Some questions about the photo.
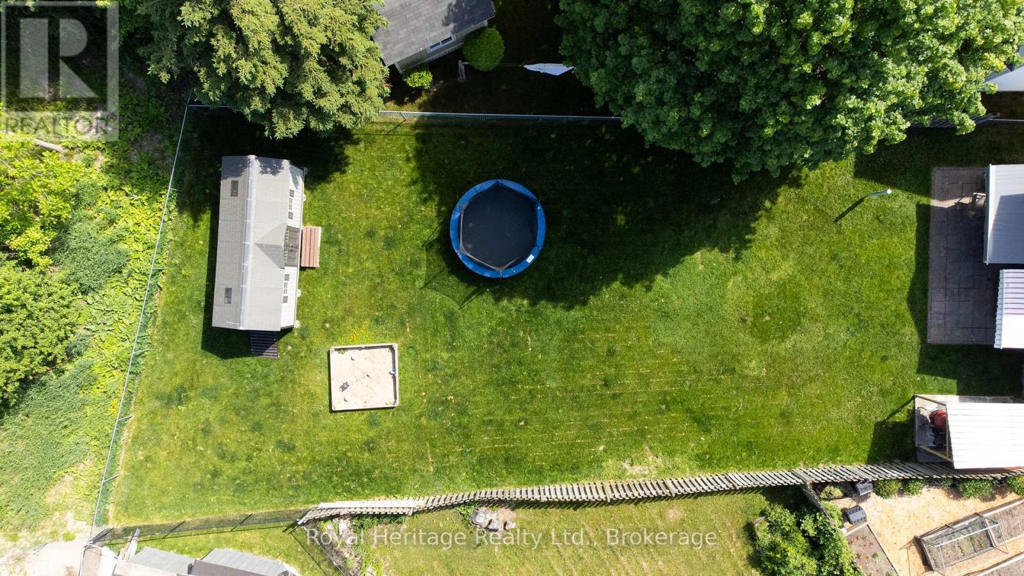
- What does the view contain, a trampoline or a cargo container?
trampoline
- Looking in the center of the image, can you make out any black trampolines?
Yes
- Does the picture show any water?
No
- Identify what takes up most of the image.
grass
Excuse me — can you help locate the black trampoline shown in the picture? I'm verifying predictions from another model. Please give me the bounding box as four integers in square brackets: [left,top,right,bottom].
[451,179,546,277]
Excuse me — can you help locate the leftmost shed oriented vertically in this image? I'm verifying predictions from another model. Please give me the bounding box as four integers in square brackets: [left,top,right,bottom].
[212,154,303,332]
